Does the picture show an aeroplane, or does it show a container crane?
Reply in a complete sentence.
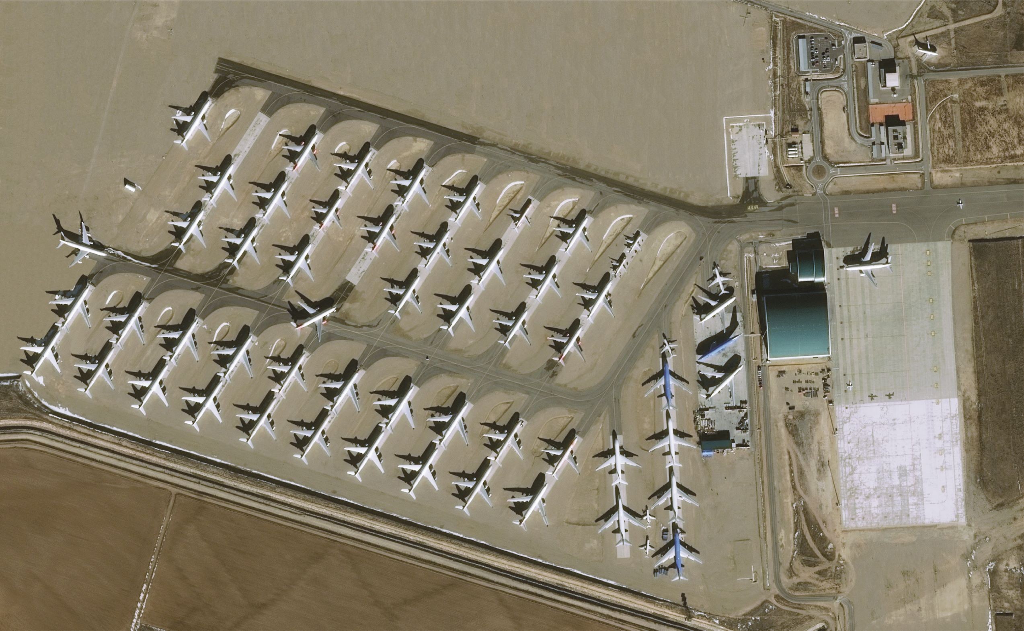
There is an aeroplane in the scene.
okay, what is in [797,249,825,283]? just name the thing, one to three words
hangar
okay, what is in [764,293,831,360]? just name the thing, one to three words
hangar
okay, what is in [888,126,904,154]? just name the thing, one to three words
building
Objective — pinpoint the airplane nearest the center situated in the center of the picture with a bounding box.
[493,311,531,350]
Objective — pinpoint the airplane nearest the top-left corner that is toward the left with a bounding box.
[171,99,211,150]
